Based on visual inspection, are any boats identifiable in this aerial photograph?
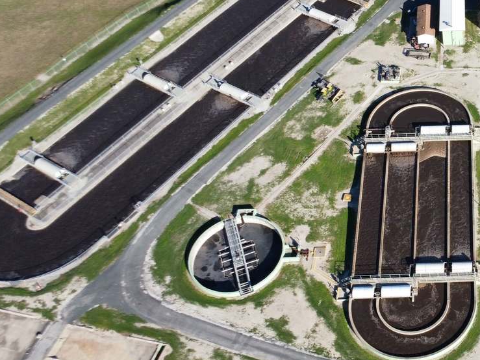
No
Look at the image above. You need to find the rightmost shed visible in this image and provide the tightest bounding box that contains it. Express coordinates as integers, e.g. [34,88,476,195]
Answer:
[439,0,467,46]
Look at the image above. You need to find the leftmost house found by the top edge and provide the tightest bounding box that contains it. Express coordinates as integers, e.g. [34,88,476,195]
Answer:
[416,3,437,47]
